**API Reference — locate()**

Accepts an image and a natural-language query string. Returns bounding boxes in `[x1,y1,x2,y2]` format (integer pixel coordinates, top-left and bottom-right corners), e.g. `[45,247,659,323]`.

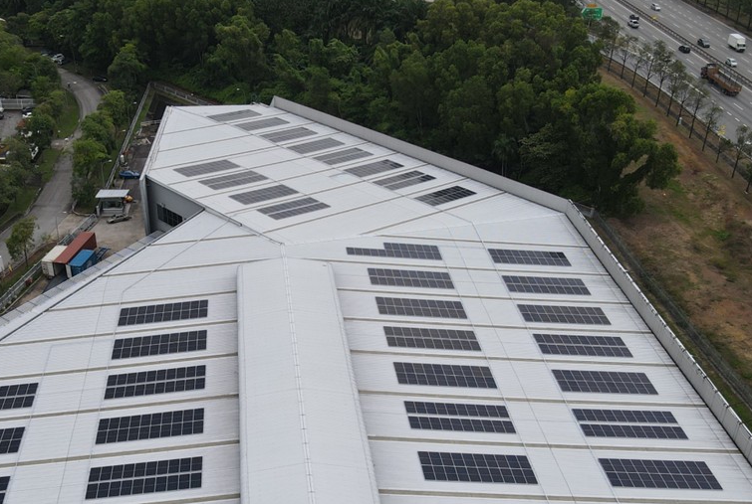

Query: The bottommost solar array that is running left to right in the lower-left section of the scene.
[85,456,203,498]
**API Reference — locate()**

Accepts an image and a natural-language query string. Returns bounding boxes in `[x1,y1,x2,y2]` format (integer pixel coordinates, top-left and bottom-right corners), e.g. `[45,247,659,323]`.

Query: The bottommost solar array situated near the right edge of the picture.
[598,457,723,489]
